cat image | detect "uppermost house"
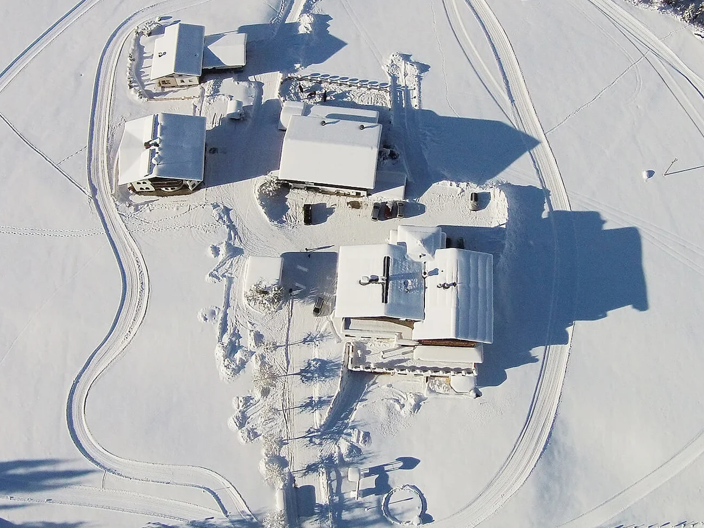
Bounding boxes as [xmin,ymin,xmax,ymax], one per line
[151,22,247,99]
